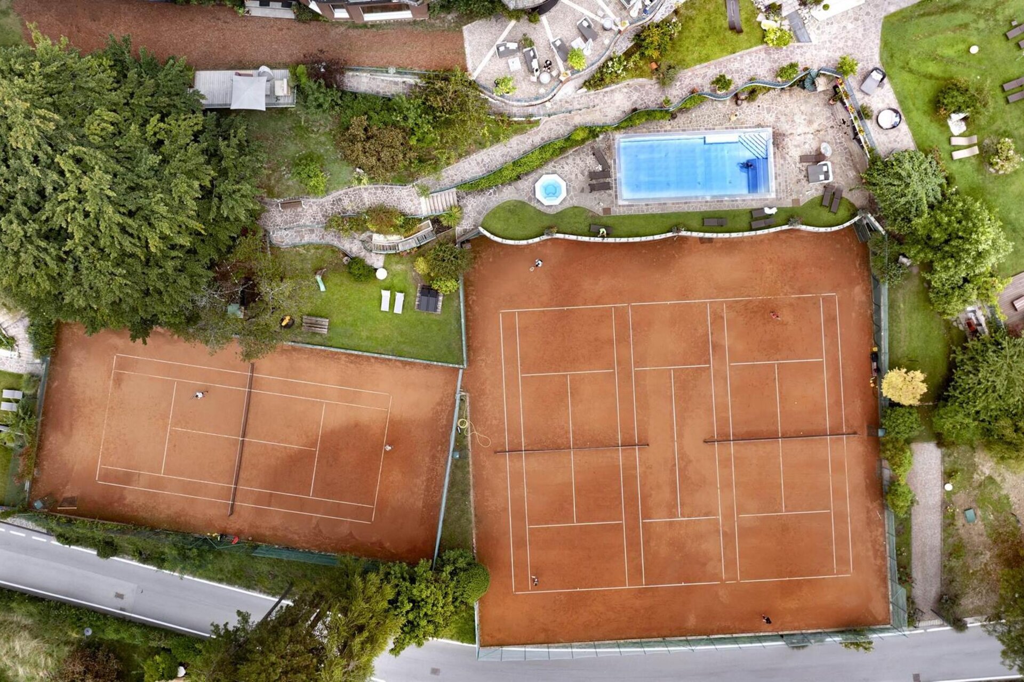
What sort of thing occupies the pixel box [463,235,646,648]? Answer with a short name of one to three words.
tennis court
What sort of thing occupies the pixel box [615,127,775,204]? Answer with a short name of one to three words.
swimming pool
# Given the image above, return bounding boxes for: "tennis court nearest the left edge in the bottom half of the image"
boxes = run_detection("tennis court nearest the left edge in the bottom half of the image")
[30,323,463,563]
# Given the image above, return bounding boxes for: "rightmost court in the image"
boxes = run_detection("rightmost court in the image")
[701,222,892,639]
